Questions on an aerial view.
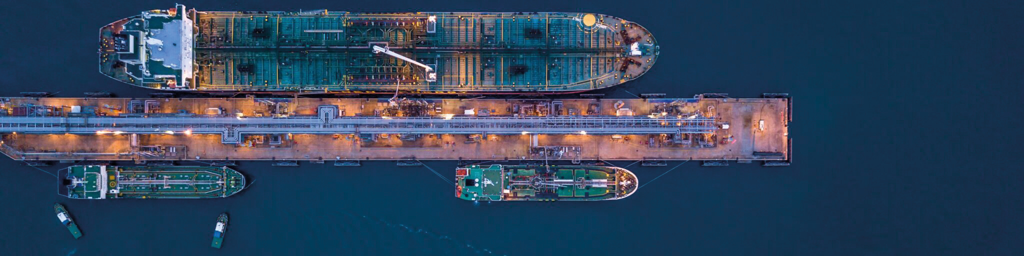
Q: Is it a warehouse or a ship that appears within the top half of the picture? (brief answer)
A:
ship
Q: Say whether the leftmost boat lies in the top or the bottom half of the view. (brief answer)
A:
bottom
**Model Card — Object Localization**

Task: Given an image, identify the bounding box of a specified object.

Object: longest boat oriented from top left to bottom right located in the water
[53,202,83,240]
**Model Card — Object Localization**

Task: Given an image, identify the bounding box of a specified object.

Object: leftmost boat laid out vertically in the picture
[210,212,227,250]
